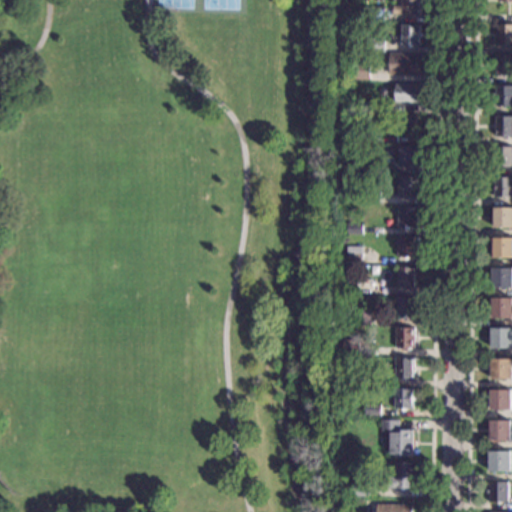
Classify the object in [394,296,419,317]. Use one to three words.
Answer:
house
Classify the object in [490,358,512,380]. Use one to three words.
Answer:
house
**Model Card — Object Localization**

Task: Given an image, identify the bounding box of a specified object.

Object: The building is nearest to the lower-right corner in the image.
[496,482,510,506]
